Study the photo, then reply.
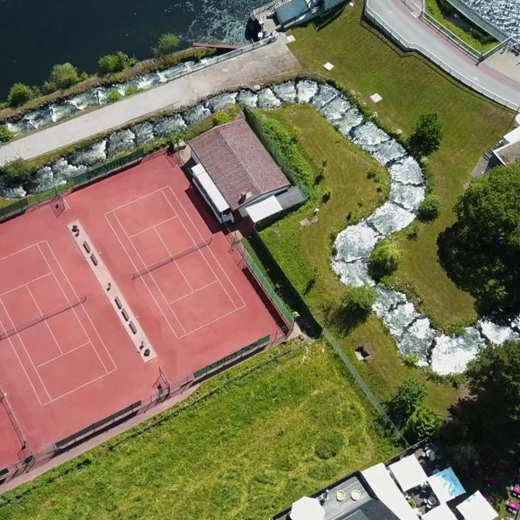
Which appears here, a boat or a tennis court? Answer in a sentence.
The image shows a tennis court.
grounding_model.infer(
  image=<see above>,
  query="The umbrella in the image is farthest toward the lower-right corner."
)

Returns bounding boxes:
[457,491,499,520]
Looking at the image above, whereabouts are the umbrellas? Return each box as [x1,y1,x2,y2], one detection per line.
[422,505,456,520]
[457,491,499,520]
[389,455,427,492]
[286,494,328,520]
[429,468,466,503]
